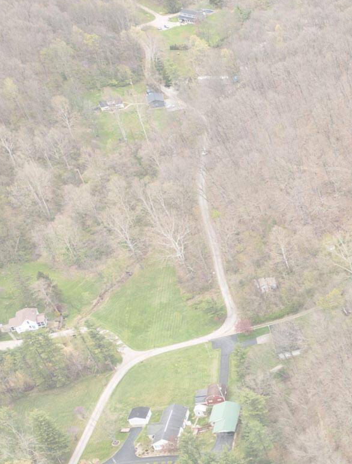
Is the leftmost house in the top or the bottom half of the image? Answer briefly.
bottom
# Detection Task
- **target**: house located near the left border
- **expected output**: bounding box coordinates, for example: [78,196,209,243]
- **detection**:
[7,302,47,333]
